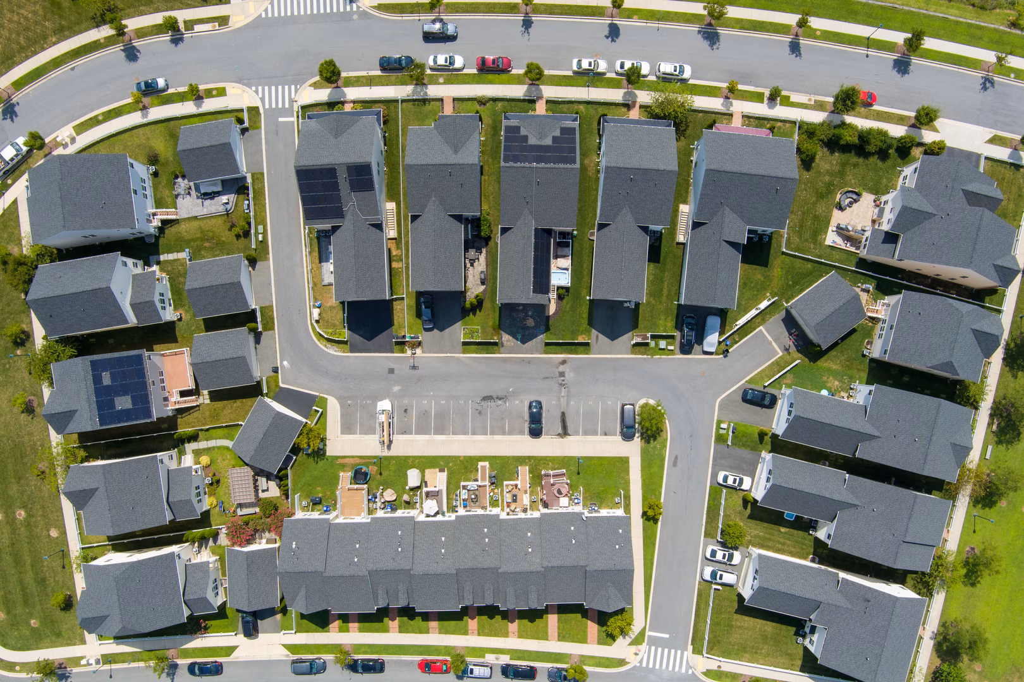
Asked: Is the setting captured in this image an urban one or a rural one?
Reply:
urban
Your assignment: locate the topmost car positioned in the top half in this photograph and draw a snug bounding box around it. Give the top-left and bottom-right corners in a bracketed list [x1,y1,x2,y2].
[422,20,458,40]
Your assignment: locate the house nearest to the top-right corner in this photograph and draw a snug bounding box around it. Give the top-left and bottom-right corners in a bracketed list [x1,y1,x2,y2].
[849,155,1024,286]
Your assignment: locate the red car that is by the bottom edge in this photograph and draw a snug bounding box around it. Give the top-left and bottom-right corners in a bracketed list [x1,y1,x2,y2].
[418,658,451,676]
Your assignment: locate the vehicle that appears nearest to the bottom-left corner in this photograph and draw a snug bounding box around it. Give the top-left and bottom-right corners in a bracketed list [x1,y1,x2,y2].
[189,659,224,677]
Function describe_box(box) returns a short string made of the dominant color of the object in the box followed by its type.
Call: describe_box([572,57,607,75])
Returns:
white car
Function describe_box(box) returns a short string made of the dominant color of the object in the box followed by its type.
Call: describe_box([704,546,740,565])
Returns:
white car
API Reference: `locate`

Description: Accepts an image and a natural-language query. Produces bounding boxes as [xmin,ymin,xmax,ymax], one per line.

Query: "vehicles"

[700,565,738,586]
[716,471,751,490]
[291,657,327,676]
[422,20,458,40]
[134,76,171,95]
[527,400,544,436]
[429,52,464,70]
[656,62,691,80]
[240,611,259,642]
[501,662,536,681]
[476,54,512,72]
[544,665,571,682]
[704,546,740,565]
[189,659,224,677]
[419,294,436,330]
[379,53,414,71]
[572,57,607,75]
[350,657,386,676]
[740,389,776,406]
[855,88,880,107]
[376,395,394,439]
[620,402,637,440]
[0,137,35,175]
[459,661,495,680]
[615,59,649,77]
[418,658,451,676]
[679,315,698,351]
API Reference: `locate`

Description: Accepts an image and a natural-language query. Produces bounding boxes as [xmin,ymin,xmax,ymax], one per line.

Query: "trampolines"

[353,466,370,483]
